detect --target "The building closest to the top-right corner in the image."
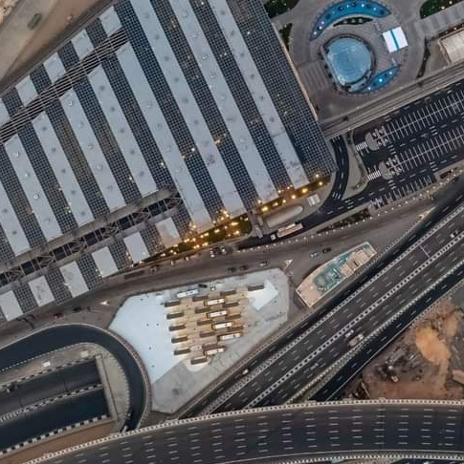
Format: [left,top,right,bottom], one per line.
[325,32,375,86]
